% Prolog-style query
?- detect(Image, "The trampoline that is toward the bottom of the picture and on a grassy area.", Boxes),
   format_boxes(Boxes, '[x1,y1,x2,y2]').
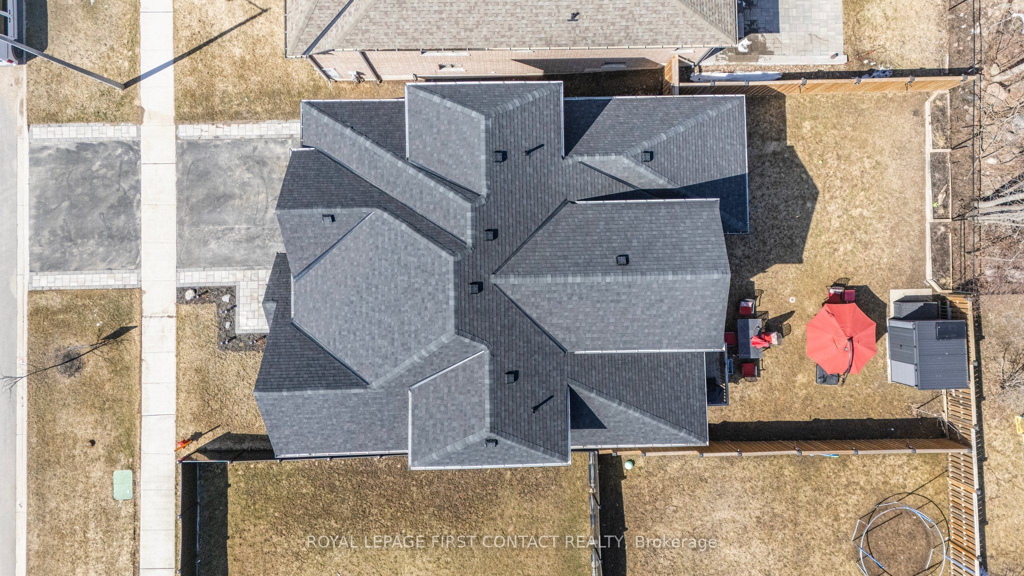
[851,502,978,576]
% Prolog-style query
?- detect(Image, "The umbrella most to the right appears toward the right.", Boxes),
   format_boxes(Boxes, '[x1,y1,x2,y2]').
[805,303,876,385]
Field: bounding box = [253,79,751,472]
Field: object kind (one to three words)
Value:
house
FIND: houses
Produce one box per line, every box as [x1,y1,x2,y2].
[282,0,741,89]
[253,79,751,472]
